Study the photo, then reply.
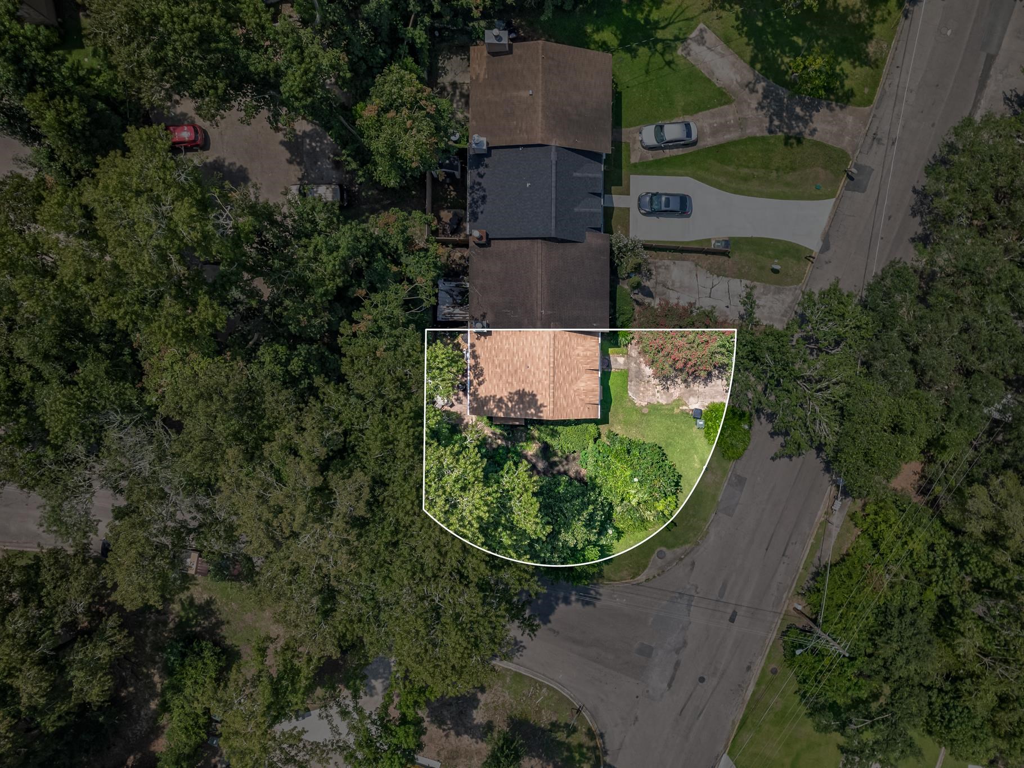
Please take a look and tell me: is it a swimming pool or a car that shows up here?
car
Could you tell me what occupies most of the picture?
trees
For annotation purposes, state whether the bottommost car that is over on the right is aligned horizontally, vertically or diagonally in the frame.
horizontally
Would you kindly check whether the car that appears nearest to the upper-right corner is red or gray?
gray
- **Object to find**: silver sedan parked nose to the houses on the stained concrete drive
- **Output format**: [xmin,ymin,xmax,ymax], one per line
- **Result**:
[639,120,699,150]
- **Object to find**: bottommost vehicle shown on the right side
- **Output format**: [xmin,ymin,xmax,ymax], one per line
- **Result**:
[638,189,694,217]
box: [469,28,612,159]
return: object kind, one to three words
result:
house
